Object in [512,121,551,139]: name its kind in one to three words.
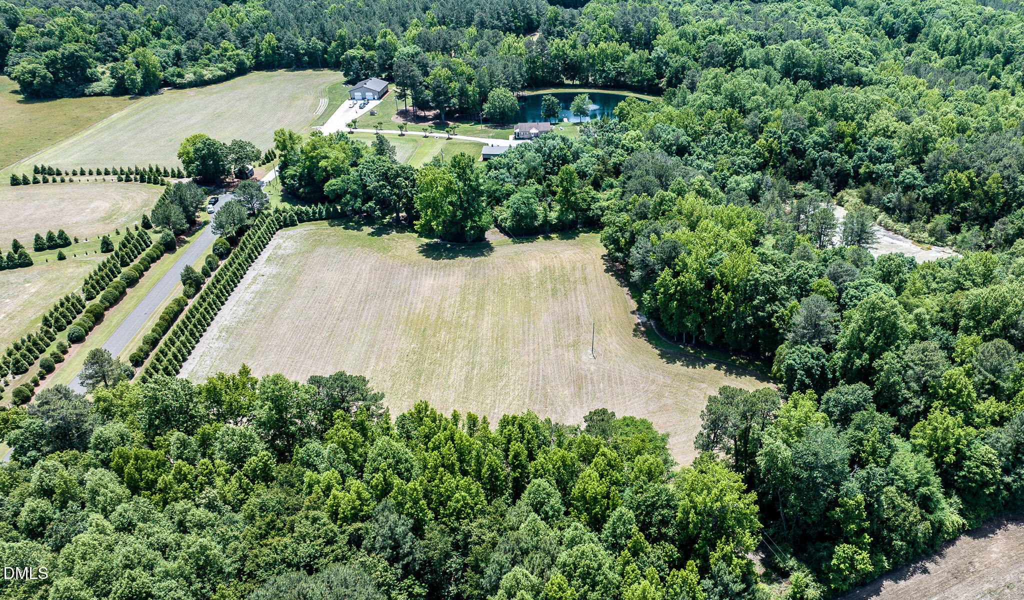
house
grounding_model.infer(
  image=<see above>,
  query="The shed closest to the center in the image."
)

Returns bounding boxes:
[481,146,521,161]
